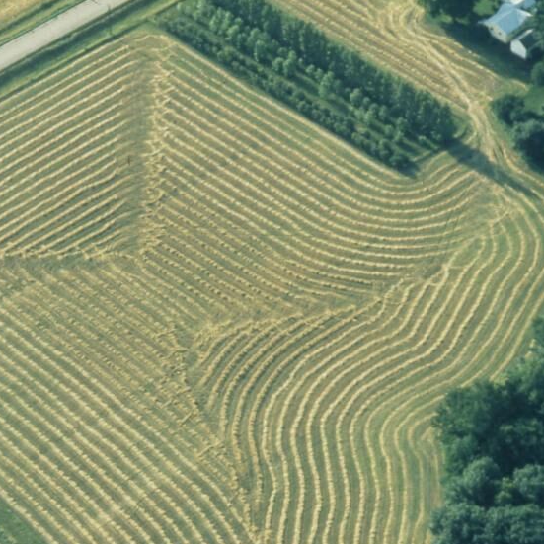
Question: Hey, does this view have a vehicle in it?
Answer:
No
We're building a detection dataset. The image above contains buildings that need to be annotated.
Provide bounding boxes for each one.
[481,5,532,42]
[510,31,543,59]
